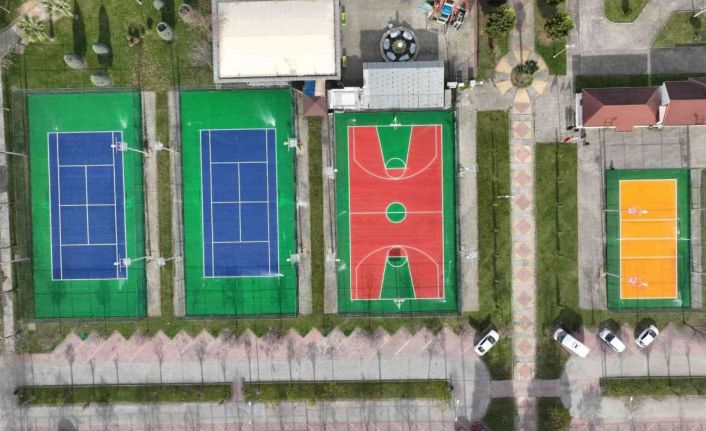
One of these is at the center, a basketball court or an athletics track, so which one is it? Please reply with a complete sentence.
Looking at the center, you will find a basketball court.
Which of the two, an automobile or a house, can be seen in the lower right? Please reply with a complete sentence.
You can see an automobile in the lower right.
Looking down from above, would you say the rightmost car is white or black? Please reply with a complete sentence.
The rightmost car looks white in the image.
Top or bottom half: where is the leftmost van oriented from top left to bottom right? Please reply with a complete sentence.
Seen from above, the leftmost van oriented from top left to bottom right lies in the bottom half of the view.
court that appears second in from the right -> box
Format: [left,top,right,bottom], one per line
[334,111,459,314]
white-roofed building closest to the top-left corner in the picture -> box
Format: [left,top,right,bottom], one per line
[214,0,341,87]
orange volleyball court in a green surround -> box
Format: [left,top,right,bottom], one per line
[607,168,694,309]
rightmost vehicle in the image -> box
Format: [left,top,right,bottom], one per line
[634,323,659,348]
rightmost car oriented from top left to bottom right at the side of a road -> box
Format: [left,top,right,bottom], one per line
[598,326,627,352]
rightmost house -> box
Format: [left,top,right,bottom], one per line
[654,76,706,130]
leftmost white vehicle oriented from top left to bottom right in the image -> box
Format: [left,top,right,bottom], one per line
[553,326,592,359]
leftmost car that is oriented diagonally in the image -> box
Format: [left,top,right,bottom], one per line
[472,330,499,357]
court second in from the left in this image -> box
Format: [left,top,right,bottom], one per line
[179,90,299,317]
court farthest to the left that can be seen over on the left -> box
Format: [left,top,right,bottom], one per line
[27,92,148,319]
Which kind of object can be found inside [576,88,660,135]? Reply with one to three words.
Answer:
house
